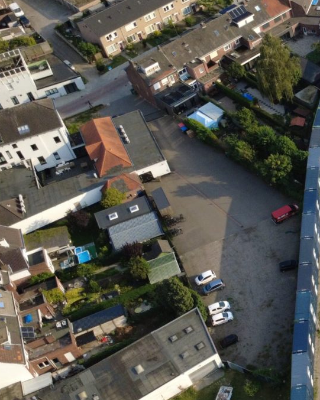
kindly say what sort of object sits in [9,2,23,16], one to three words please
vehicle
